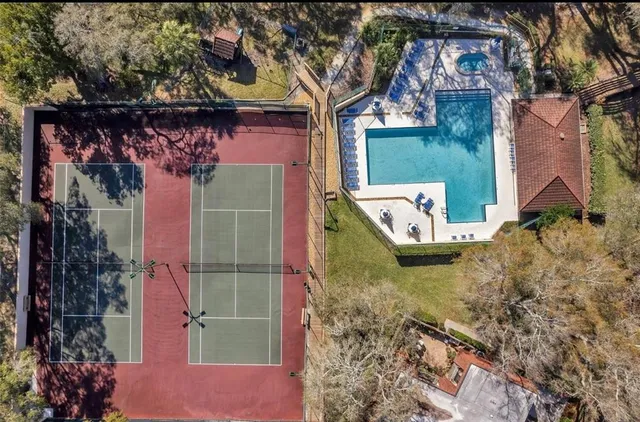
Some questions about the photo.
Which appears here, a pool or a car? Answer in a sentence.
There is a pool in the scene.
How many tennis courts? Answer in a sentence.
The photo contains 2 tennis courts.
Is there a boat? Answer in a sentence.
No, the frame has no boat in it.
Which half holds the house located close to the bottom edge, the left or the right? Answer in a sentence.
The house located close to the bottom edge appears in the right half of the scene.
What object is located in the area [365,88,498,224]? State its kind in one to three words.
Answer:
swimming pool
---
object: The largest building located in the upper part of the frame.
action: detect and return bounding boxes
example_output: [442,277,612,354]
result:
[511,96,586,211]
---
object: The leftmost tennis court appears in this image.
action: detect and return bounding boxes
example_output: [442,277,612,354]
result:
[26,109,168,418]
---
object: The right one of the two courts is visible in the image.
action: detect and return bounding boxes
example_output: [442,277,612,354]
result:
[165,109,308,418]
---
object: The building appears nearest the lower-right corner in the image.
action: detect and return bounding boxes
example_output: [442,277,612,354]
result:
[443,363,538,422]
